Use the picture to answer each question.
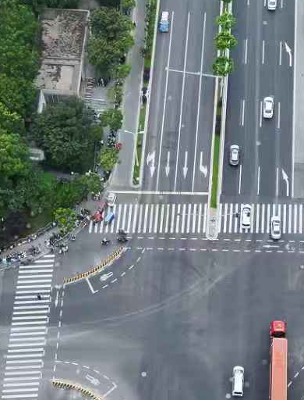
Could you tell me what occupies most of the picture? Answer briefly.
paved ground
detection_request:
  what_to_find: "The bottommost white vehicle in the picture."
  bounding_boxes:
[232,366,246,398]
